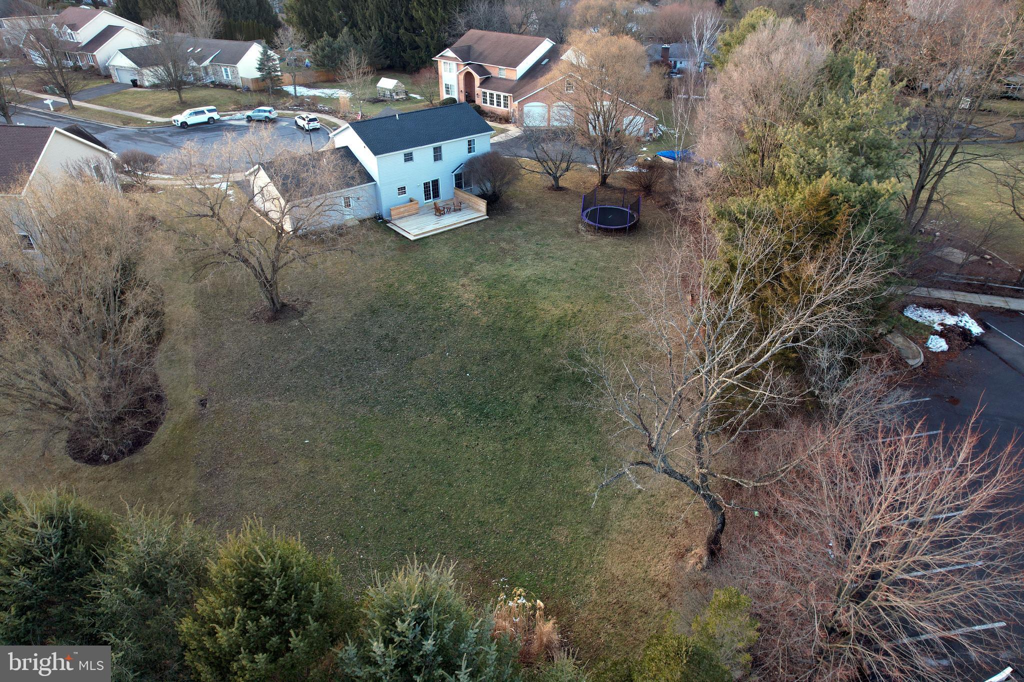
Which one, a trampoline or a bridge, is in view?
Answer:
trampoline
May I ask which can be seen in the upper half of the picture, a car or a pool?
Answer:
car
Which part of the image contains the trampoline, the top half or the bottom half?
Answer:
top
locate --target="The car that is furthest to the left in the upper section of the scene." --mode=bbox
[170,107,219,128]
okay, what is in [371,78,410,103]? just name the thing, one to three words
greenhouse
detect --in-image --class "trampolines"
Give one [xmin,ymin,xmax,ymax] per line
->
[581,187,638,237]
